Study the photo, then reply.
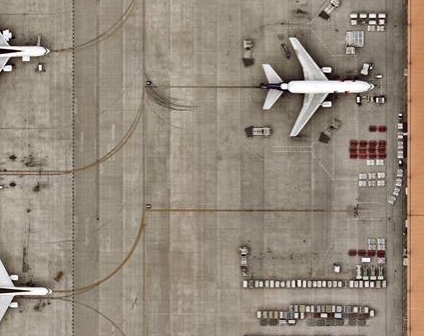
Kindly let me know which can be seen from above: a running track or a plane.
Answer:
plane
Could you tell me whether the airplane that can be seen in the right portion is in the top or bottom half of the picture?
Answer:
top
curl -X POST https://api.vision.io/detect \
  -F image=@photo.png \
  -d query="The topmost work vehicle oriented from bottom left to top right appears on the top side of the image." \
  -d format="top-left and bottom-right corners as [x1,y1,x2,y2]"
[320,0,340,19]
